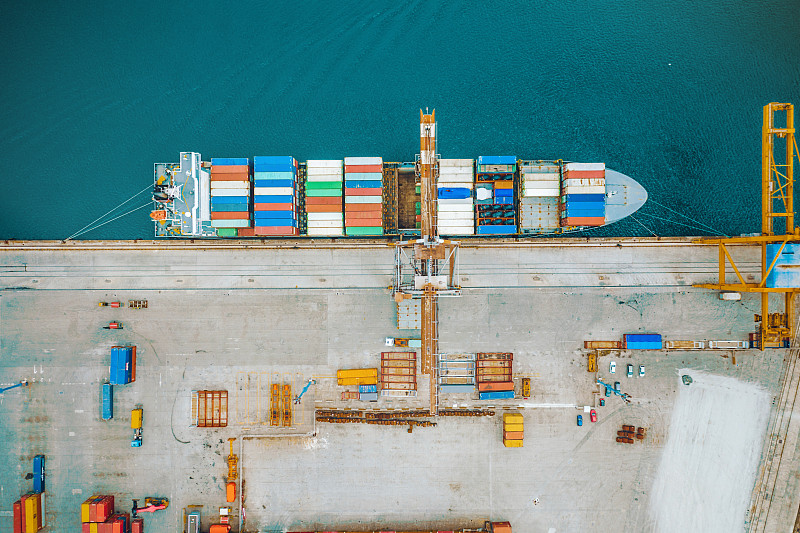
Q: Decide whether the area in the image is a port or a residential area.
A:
port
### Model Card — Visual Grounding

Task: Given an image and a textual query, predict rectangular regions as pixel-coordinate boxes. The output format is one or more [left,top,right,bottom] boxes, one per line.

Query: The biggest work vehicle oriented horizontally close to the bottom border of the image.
[125,497,171,517]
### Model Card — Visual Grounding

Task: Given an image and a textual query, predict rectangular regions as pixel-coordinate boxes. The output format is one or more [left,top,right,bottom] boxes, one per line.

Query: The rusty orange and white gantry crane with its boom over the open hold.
[390,107,461,413]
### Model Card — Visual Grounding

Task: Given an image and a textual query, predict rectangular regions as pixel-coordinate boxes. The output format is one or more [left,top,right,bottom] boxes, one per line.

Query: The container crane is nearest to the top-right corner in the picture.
[688,102,800,349]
